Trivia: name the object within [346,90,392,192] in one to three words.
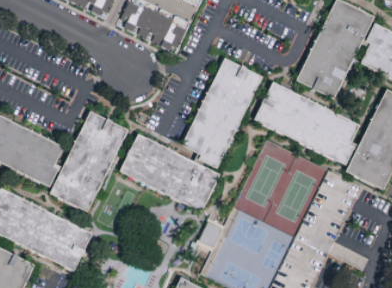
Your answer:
building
